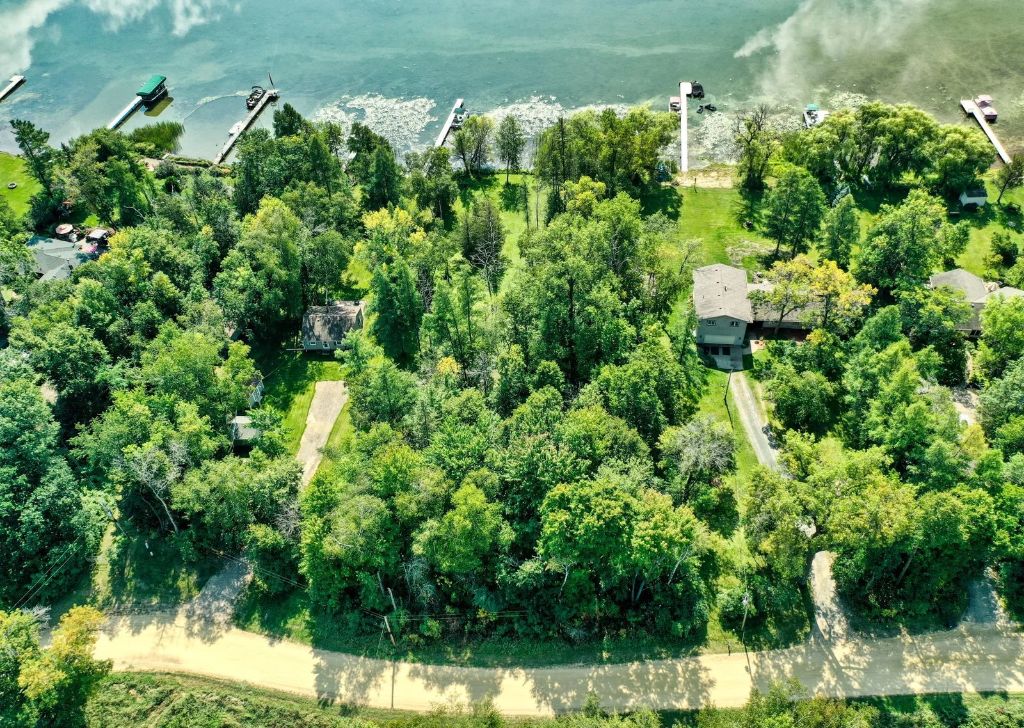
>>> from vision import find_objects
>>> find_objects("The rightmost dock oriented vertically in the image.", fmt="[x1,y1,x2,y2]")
[678,80,692,174]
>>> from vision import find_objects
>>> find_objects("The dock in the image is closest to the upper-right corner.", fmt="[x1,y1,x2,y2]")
[961,100,1013,164]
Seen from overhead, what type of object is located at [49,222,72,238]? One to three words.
umbrella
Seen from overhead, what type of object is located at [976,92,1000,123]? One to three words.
boat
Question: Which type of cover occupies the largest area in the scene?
trees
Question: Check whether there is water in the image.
Yes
